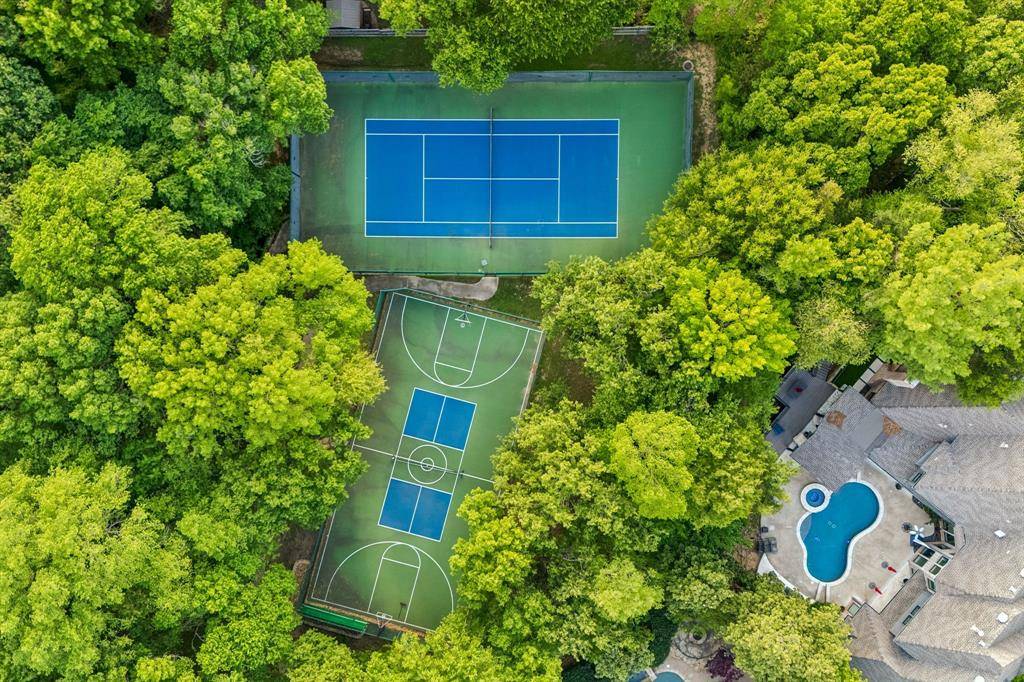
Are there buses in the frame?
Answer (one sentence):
No, no bus can be seen from above.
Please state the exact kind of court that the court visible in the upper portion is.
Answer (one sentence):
The court visible in the upper portion in the image is a tennis court.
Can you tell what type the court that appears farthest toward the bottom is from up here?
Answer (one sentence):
The court that appears farthest toward the bottom appears to be a basketball court.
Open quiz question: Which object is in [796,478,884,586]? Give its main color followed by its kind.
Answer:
blue swimming pool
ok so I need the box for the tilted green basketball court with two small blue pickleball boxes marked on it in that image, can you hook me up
[305,287,549,636]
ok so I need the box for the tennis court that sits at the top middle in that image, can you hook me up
[300,83,686,274]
